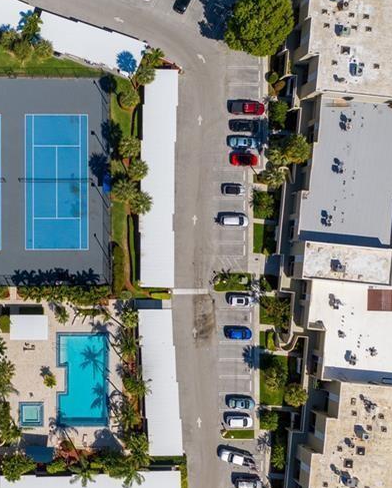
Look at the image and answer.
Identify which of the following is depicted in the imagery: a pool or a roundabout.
pool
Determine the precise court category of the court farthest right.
tennis court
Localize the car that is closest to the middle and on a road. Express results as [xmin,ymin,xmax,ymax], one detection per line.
[220,214,248,227]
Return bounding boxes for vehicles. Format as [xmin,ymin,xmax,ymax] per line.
[235,478,263,488]
[227,295,255,308]
[226,416,255,430]
[229,119,257,132]
[173,0,189,16]
[227,397,255,411]
[228,135,256,148]
[222,449,253,467]
[220,214,248,227]
[225,327,252,340]
[229,101,262,114]
[230,152,255,166]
